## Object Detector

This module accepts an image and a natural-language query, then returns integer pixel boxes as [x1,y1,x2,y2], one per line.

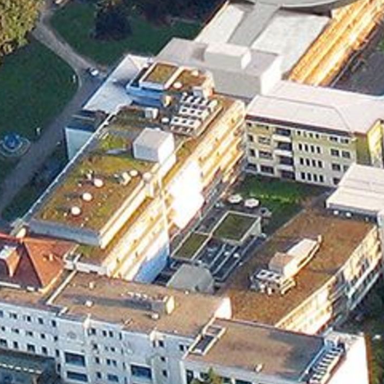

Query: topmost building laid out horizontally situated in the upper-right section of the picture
[183,0,384,84]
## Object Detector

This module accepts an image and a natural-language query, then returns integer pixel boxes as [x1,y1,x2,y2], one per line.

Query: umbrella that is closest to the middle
[226,195,244,211]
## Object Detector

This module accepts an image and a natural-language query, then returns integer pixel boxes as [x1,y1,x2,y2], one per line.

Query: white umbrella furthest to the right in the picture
[243,199,261,214]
